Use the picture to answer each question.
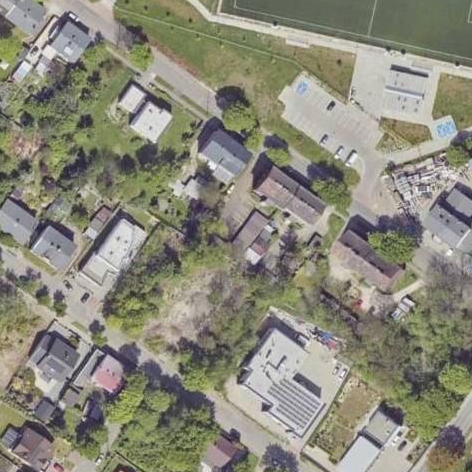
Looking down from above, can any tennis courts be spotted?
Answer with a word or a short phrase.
No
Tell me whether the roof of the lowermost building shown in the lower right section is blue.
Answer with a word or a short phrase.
No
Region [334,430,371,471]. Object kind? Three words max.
building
